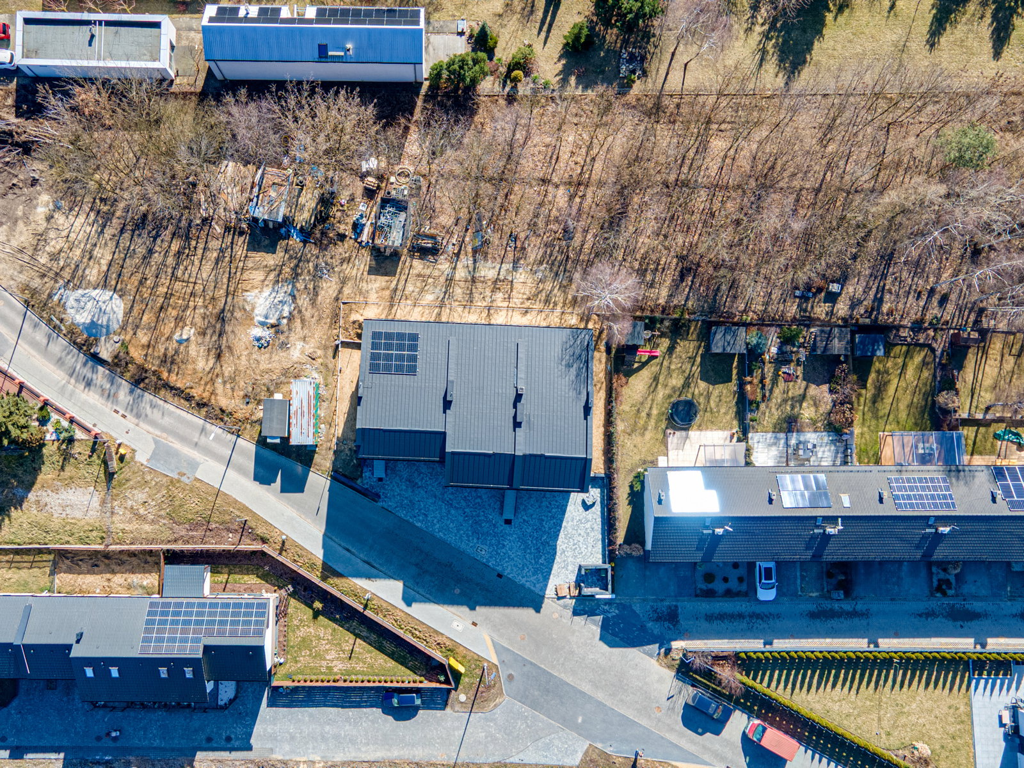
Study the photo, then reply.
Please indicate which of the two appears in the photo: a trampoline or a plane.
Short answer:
trampoline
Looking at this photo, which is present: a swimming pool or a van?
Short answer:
van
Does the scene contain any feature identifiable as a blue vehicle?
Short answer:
Yes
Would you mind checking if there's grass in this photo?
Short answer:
Yes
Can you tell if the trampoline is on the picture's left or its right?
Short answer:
right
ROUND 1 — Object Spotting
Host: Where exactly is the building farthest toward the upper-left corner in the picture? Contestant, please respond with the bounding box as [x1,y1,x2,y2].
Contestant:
[15,10,177,80]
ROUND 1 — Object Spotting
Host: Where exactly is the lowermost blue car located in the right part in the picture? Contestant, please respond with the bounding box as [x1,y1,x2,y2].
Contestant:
[686,690,733,722]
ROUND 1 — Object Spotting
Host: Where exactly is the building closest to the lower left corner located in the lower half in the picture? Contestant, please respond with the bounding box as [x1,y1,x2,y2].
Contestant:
[0,565,283,703]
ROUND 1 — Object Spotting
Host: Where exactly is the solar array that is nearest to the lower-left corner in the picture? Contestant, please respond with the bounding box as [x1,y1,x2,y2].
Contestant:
[138,599,270,653]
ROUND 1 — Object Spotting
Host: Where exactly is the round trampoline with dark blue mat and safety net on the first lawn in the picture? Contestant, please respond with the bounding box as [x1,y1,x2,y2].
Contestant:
[670,397,705,428]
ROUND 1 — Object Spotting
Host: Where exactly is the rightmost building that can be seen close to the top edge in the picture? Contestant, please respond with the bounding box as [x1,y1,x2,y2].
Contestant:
[202,7,425,86]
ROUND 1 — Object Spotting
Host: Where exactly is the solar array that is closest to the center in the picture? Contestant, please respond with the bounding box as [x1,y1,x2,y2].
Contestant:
[370,330,418,373]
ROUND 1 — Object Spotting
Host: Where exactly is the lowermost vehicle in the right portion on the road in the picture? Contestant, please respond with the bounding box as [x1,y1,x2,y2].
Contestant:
[745,718,802,761]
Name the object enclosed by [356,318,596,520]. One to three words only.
house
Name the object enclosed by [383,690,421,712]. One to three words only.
car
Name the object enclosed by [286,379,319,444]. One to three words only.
shed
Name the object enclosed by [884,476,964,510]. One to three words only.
solar array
